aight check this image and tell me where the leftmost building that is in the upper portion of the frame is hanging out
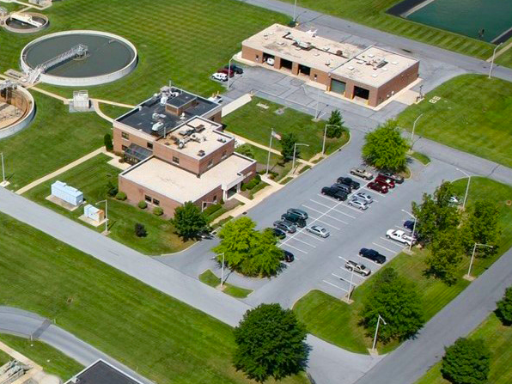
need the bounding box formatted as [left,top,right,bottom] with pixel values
[113,77,254,219]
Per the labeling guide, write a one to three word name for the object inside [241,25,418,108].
building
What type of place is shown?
industrial area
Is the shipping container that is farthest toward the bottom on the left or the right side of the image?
left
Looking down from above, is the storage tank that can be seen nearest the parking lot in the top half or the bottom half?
top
